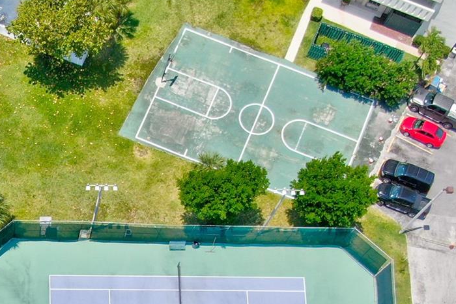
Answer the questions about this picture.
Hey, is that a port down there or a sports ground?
sports ground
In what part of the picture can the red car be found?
right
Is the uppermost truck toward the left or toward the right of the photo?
right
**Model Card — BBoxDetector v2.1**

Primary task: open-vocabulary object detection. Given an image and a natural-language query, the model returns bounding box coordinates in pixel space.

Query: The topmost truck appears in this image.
[406,89,456,132]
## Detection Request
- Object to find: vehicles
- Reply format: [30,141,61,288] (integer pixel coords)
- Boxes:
[376,186,437,224]
[401,118,449,151]
[406,89,456,132]
[380,162,438,201]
